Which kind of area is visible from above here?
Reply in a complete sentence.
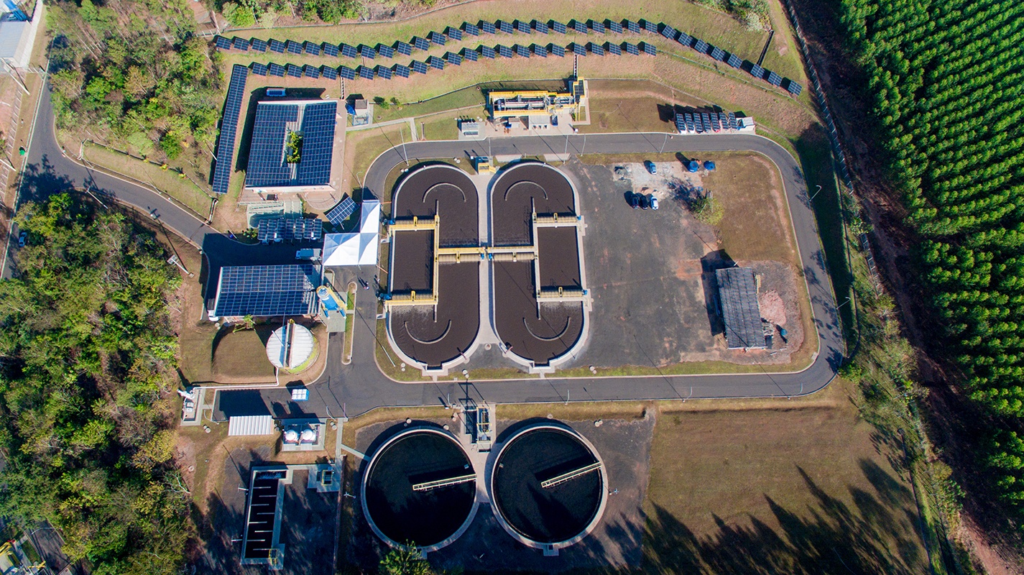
The area seen from above is an industrial area.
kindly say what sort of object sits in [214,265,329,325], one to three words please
building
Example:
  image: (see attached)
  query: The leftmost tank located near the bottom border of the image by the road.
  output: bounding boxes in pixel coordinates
[358,425,484,563]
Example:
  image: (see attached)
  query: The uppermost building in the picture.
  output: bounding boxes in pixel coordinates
[0,21,36,69]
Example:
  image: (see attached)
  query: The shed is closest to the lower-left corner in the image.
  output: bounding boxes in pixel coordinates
[229,415,279,437]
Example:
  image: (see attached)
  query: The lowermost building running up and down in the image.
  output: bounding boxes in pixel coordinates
[713,267,766,351]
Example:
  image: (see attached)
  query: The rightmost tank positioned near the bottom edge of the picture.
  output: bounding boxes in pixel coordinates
[486,421,612,560]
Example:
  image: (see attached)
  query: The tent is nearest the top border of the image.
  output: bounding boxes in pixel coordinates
[360,201,382,238]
